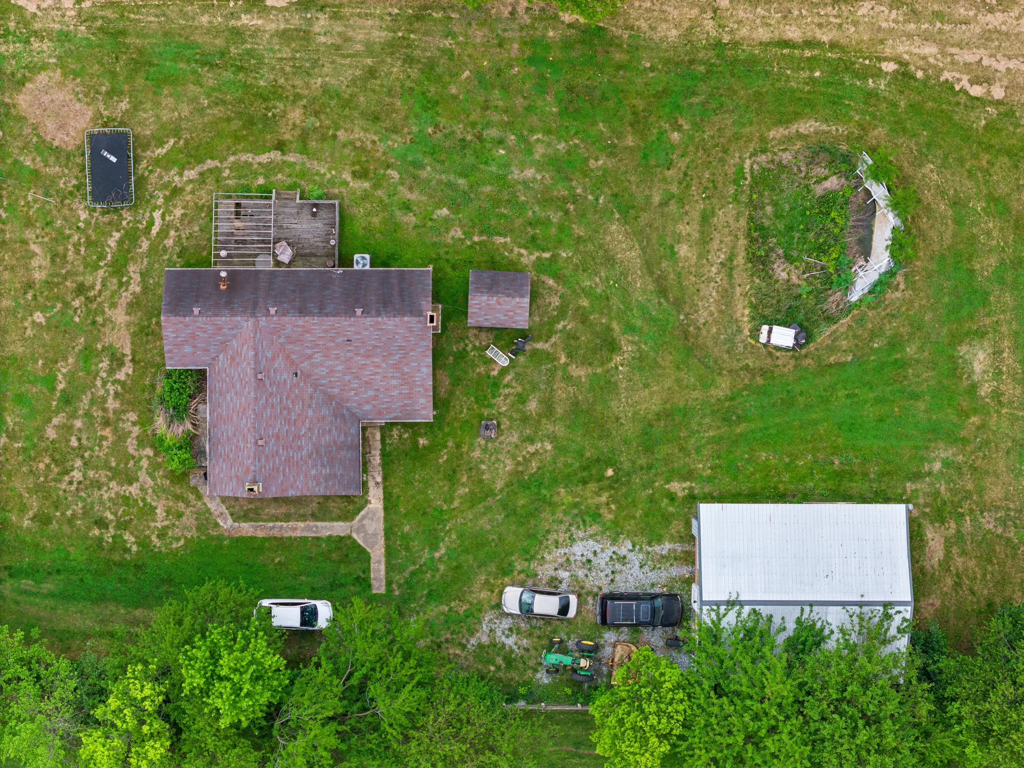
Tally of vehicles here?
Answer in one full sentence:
Looking from above, you can make out 5 vehicles.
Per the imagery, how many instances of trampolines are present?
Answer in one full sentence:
Only 1 trampoline is visible.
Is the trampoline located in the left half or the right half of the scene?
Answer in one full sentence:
The trampoline appears in the left half of the scene.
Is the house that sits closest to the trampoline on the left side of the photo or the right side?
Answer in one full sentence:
The house that sits closest to the trampoline sits on the left side.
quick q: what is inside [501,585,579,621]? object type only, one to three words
car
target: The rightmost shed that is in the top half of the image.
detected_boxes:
[467,269,531,329]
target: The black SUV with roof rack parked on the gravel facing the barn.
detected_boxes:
[597,591,680,630]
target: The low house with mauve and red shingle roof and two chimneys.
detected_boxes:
[161,266,441,498]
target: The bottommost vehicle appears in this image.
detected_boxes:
[542,639,601,681]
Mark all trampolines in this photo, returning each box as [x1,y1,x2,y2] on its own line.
[85,129,134,207]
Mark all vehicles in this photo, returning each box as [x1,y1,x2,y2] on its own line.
[597,591,680,630]
[542,639,601,681]
[501,585,579,621]
[254,597,333,632]
[758,325,795,349]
